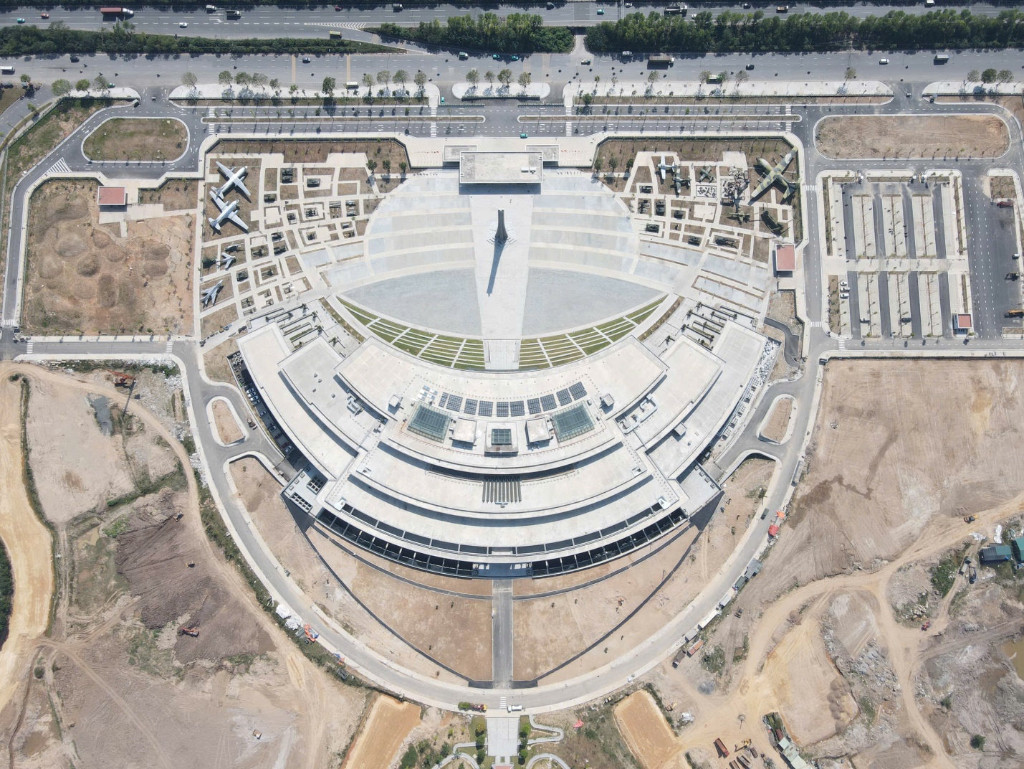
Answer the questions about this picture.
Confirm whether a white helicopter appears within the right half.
No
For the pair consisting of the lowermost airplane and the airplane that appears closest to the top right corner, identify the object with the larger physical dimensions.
the airplane that appears closest to the top right corner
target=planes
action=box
[735,182,750,204]
[750,144,802,196]
[701,167,717,182]
[209,191,246,228]
[215,250,235,268]
[673,167,692,191]
[198,280,223,304]
[214,159,253,196]
[658,153,677,178]
[730,207,751,223]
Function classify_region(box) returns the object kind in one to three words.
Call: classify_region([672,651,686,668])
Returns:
vehicle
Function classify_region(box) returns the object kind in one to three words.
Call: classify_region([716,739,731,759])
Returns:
vehicle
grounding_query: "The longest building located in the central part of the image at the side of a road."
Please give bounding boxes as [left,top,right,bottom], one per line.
[236,322,768,578]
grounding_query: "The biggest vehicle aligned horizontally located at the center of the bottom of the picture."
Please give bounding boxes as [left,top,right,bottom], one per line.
[458,703,487,716]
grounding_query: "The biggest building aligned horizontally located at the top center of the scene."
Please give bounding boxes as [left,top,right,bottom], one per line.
[459,151,543,187]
